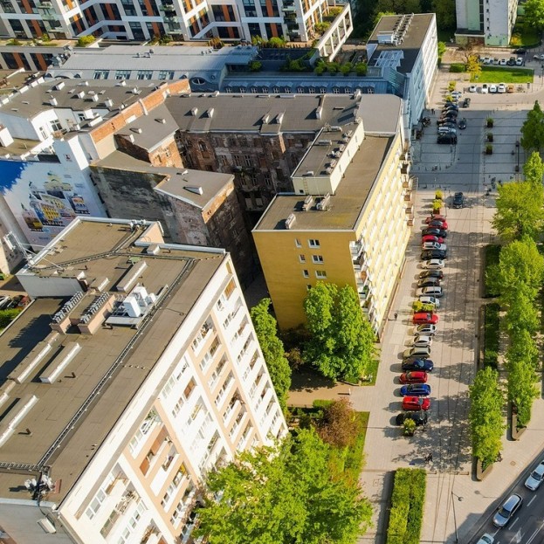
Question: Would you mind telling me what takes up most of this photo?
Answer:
buildings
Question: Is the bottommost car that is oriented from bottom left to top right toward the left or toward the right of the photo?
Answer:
right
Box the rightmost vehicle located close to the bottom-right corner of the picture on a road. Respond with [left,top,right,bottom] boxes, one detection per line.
[524,459,544,491]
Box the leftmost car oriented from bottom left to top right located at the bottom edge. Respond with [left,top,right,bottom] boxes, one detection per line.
[491,493,524,530]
